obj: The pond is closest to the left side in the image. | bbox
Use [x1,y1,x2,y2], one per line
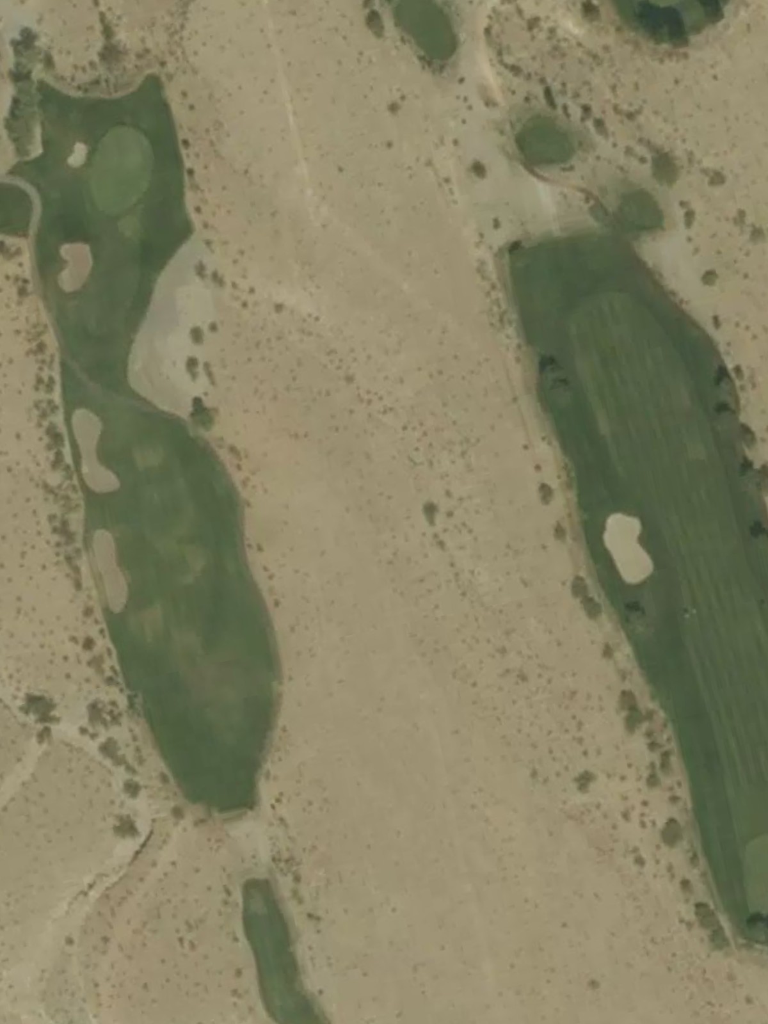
[632,0,688,46]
